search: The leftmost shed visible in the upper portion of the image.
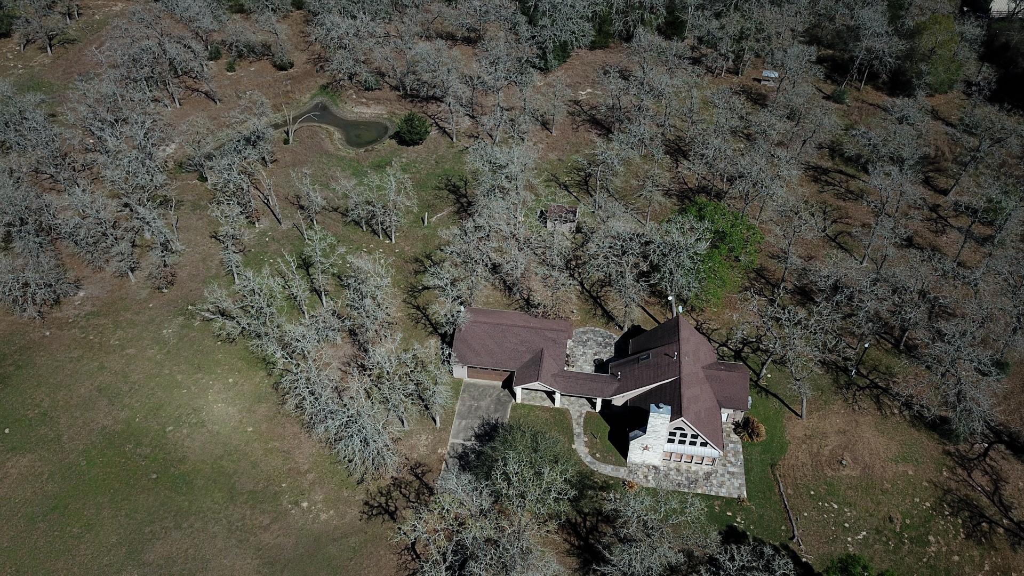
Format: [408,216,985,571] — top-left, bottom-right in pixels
[546,197,580,229]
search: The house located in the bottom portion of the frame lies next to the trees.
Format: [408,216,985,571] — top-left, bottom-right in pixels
[452,306,750,467]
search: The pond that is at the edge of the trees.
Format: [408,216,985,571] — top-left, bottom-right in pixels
[206,103,389,164]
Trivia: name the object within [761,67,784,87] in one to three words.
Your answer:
building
